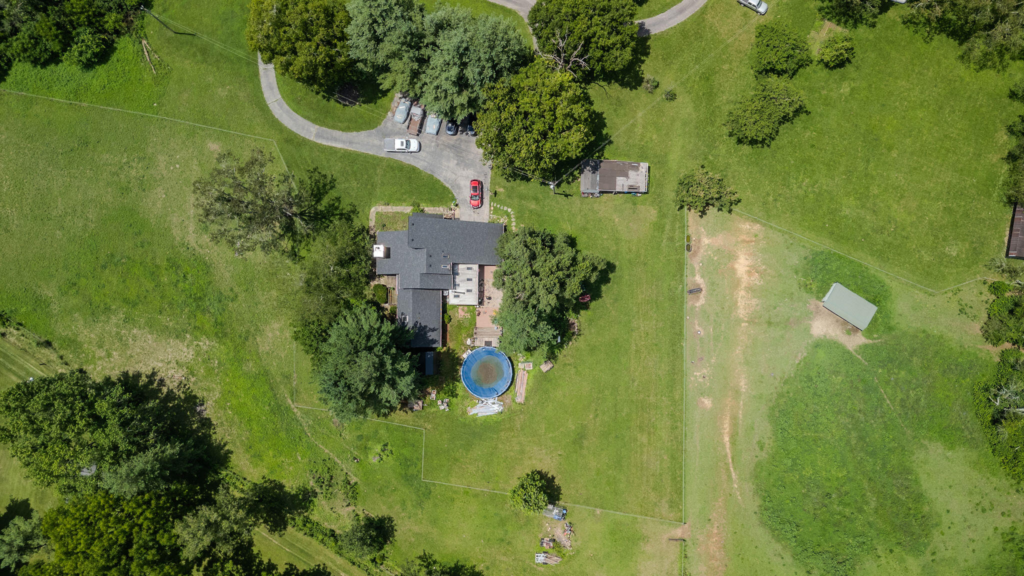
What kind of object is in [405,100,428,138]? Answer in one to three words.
truck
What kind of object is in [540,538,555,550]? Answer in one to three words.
vehicle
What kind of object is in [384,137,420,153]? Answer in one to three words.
vehicle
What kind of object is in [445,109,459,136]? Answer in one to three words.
car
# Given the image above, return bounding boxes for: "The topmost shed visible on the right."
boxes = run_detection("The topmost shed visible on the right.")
[581,159,648,193]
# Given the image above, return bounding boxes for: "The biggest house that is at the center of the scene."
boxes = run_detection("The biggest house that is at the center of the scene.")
[373,212,505,348]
